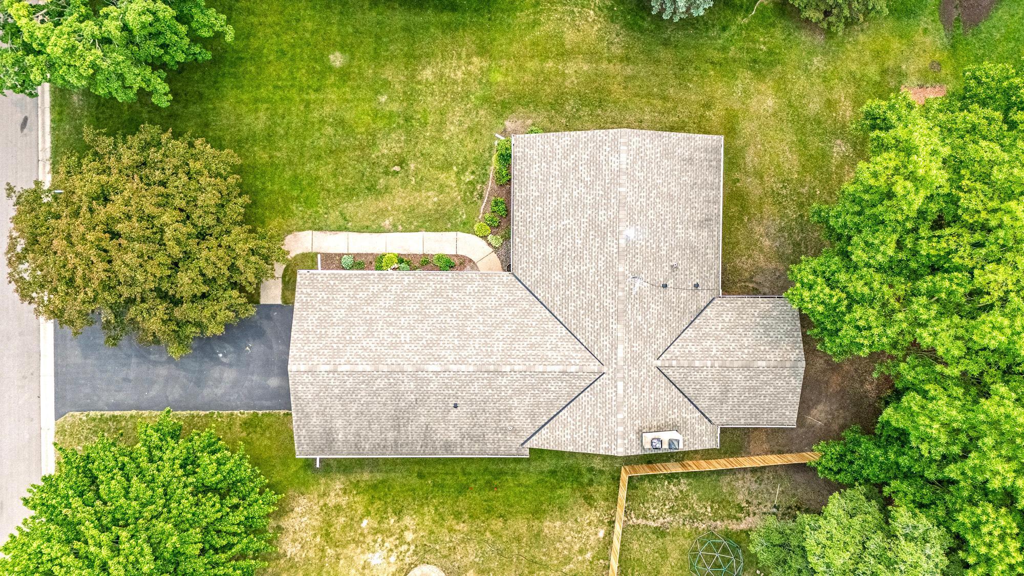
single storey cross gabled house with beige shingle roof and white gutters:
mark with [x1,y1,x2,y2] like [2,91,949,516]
[287,128,806,467]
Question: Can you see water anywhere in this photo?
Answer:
No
